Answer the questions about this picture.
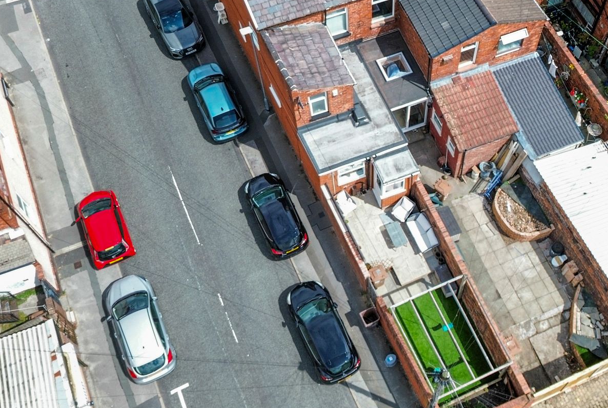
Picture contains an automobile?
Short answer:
Yes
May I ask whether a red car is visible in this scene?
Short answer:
Yes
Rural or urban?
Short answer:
urban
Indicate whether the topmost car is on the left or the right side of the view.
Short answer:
left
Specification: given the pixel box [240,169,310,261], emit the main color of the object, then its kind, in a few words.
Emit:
black car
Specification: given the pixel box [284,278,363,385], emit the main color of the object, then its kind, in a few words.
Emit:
black car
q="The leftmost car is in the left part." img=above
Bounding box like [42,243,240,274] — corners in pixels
[70,187,136,270]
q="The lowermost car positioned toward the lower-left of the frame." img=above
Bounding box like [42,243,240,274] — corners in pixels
[101,273,180,384]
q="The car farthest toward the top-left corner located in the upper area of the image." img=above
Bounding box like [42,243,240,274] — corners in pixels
[144,0,206,62]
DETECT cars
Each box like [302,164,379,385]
[240,169,310,261]
[101,273,180,384]
[284,278,363,385]
[70,187,136,270]
[184,62,248,144]
[144,0,206,62]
